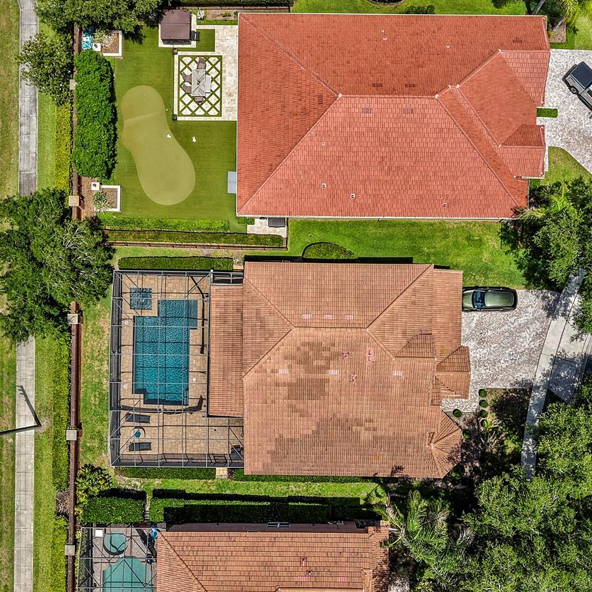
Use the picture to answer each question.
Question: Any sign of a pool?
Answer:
Yes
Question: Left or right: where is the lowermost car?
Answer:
right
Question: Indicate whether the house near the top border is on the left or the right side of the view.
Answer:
right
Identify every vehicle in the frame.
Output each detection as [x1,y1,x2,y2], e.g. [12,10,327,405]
[462,284,520,314]
[567,62,592,107]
